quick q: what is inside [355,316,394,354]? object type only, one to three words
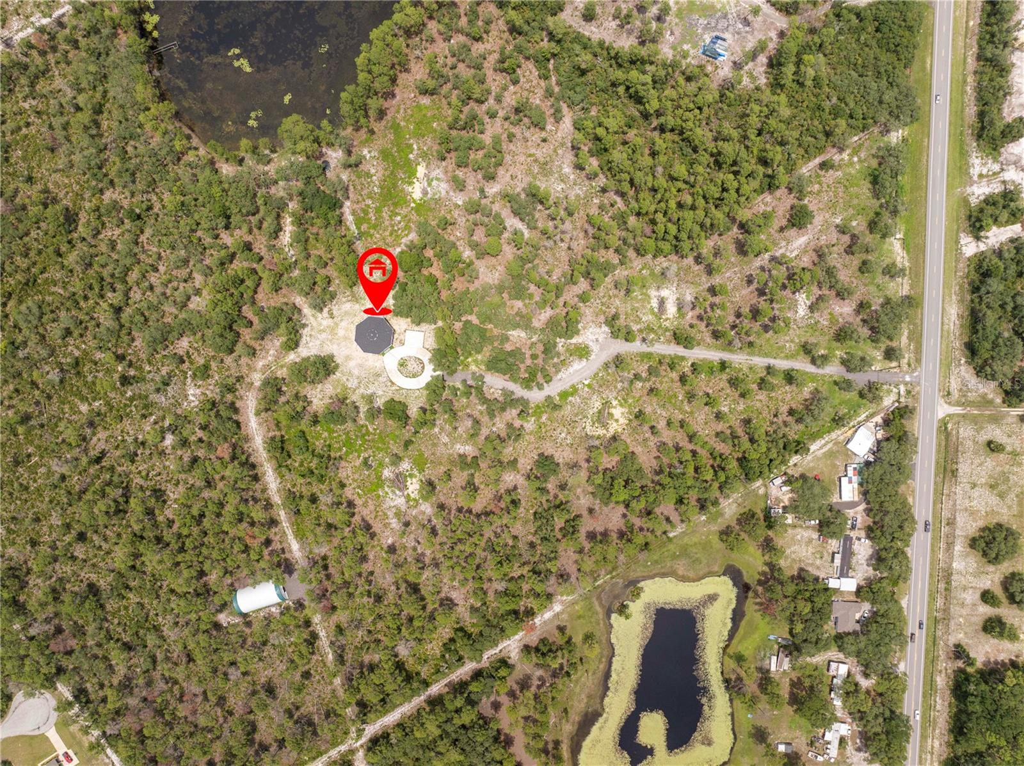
house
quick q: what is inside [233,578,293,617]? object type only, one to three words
barn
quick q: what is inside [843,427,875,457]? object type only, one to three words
building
